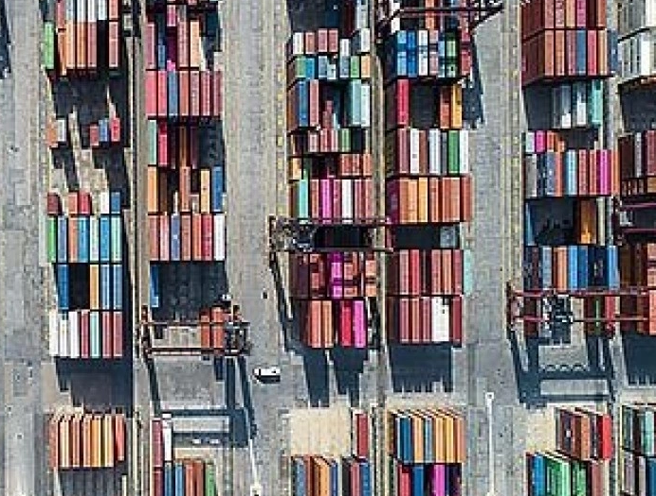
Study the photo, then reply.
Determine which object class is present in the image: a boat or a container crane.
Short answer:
container crane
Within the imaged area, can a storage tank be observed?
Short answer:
No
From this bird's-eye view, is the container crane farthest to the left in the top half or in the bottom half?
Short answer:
bottom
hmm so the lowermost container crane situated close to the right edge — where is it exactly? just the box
[504,282,655,326]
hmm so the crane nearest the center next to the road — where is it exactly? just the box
[264,215,394,262]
